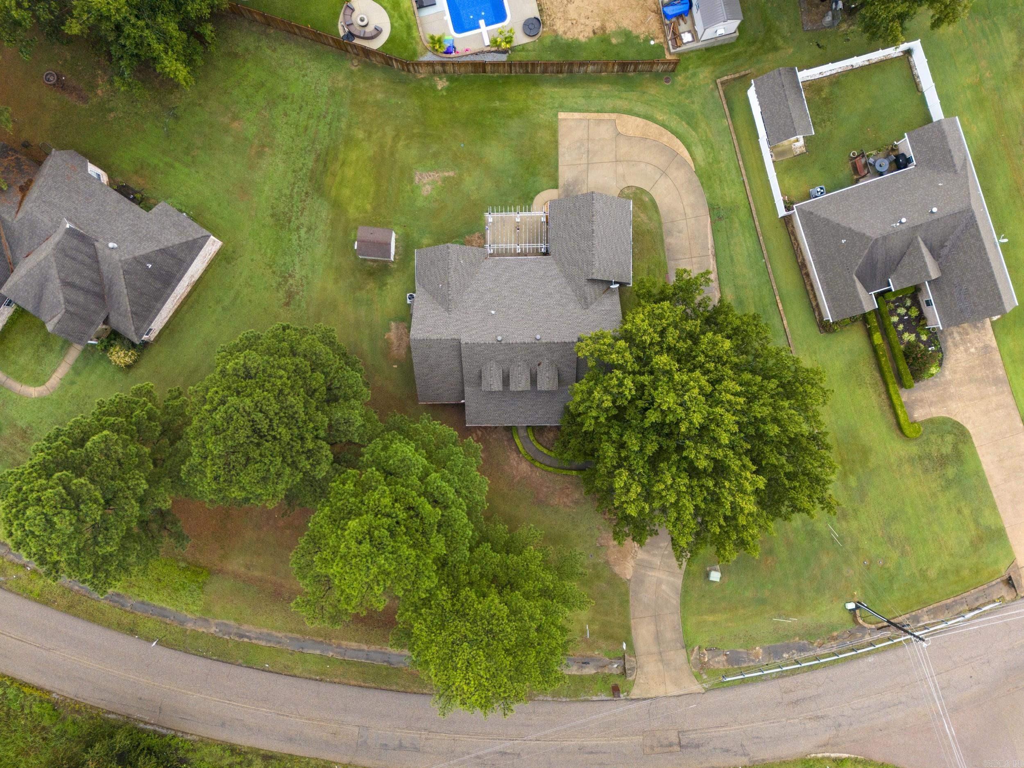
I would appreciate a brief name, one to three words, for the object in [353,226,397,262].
shed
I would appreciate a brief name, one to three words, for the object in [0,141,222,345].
house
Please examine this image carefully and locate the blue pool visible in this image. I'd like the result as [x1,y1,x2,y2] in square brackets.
[443,0,512,38]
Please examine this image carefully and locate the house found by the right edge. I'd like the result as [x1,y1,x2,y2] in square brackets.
[787,116,1019,329]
